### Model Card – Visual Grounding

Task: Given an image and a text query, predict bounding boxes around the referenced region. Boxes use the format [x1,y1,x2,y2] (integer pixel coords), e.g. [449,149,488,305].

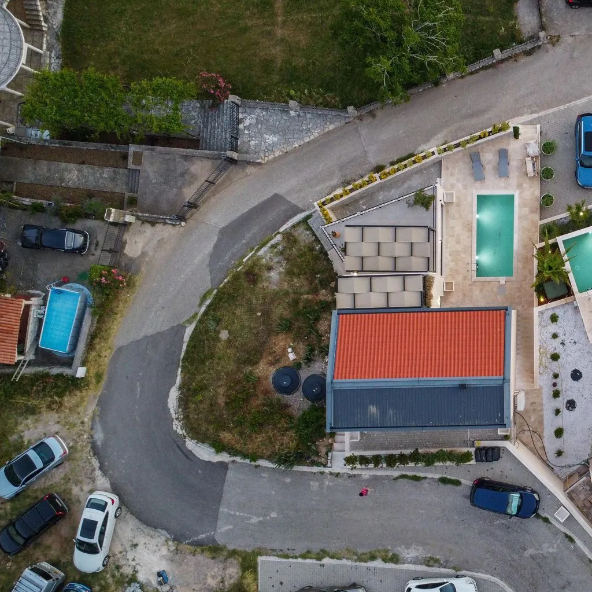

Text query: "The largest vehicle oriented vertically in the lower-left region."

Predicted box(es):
[74,490,125,571]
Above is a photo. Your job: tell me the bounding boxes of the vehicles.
[469,479,541,522]
[20,221,98,257]
[564,0,592,10]
[14,559,68,592]
[572,113,592,190]
[0,435,74,493]
[0,492,73,553]
[301,582,370,592]
[404,572,479,592]
[74,490,125,571]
